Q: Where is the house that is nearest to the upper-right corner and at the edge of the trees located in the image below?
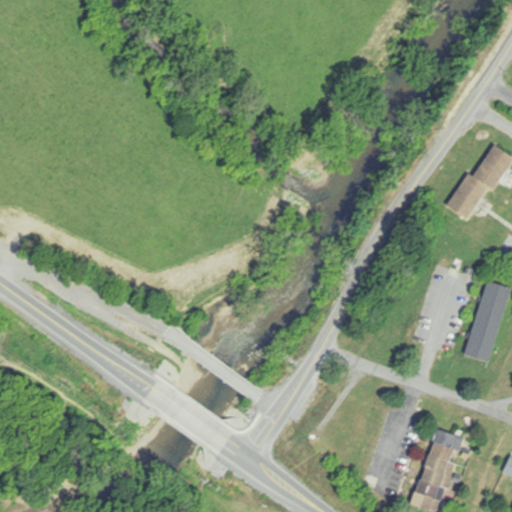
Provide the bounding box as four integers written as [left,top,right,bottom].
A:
[446,143,512,221]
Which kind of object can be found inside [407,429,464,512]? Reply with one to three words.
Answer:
building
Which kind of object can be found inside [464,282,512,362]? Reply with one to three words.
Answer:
building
